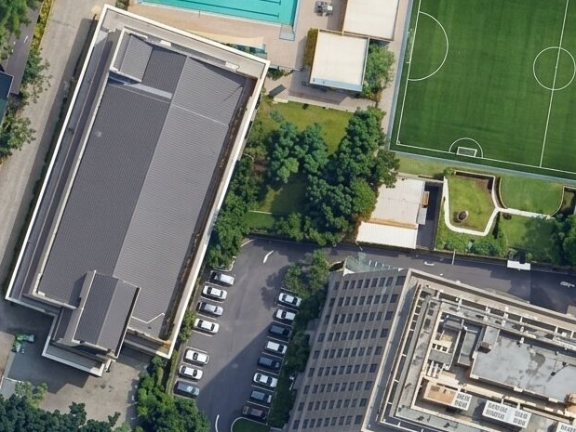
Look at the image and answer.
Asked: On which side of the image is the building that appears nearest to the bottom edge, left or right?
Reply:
right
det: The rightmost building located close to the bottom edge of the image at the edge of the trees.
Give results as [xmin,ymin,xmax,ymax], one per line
[295,269,576,432]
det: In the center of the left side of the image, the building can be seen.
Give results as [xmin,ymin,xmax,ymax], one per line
[3,6,270,376]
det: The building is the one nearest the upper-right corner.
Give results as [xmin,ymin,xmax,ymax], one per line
[341,0,399,42]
